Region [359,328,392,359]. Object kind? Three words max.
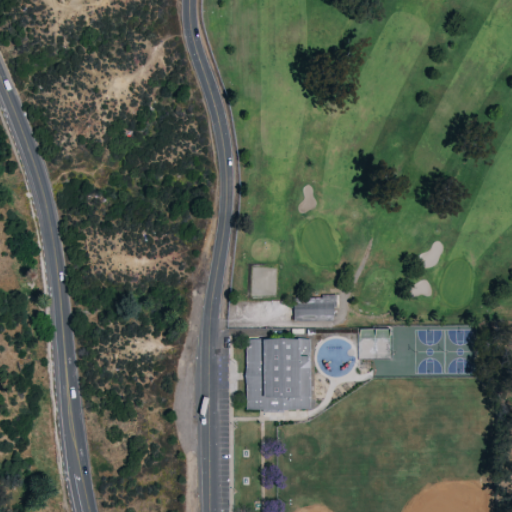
sports court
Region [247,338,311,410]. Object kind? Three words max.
building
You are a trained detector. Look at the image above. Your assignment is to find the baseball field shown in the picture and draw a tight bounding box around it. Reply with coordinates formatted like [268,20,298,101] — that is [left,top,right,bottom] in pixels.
[278,378,490,512]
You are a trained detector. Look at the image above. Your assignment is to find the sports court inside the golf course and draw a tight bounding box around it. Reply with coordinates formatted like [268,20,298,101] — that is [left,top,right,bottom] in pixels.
[250,265,278,299]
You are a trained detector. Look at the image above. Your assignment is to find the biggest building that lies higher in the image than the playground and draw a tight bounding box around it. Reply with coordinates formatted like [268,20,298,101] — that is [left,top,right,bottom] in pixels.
[294,295,340,321]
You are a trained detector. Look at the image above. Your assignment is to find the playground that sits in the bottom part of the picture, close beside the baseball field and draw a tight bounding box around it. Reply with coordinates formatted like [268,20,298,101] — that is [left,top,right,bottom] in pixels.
[314,336,358,380]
